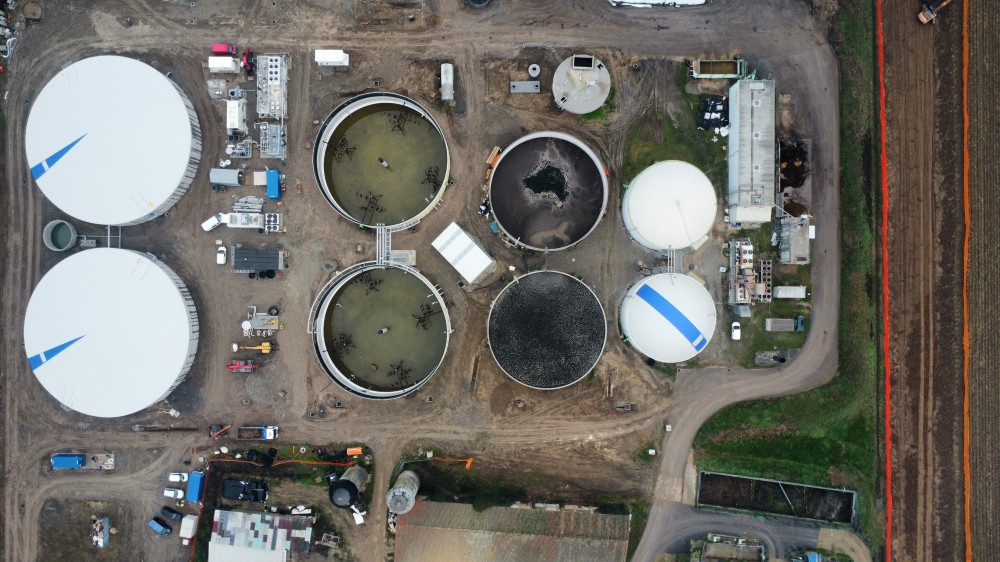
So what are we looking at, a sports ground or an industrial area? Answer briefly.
industrial area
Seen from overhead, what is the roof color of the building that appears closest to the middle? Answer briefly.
white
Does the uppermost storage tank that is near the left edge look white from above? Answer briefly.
Yes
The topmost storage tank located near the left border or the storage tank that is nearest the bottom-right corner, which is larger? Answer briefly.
the topmost storage tank located near the left border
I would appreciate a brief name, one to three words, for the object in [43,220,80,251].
storage tank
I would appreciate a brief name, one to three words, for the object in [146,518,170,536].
vehicle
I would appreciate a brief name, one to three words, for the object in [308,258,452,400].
storage tank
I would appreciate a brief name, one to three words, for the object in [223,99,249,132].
building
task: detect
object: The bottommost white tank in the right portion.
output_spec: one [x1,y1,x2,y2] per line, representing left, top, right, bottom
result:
[620,273,717,364]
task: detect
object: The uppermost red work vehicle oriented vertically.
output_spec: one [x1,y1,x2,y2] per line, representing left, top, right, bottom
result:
[241,48,254,75]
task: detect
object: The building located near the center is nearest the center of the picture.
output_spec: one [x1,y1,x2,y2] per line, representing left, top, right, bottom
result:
[432,222,492,282]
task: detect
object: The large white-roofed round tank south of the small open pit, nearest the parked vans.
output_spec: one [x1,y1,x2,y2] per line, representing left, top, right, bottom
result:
[23,249,199,416]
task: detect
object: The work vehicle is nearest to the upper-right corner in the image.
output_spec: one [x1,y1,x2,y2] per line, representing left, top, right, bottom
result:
[921,0,949,22]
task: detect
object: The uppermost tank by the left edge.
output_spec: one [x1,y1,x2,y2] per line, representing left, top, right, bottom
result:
[24,56,200,225]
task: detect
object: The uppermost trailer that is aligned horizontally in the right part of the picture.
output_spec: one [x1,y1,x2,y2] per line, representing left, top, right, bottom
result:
[685,55,745,80]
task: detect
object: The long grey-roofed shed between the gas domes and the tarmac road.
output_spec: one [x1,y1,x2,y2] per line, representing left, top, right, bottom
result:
[729,79,791,224]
